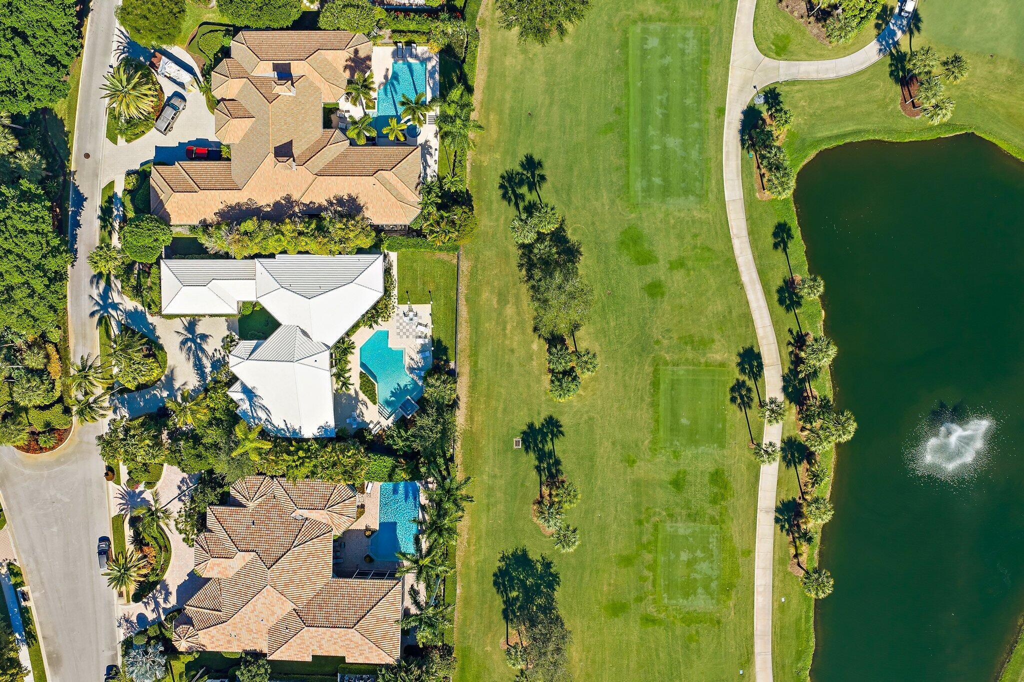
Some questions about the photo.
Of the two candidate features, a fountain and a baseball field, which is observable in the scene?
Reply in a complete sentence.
I can see a fountain in this picture.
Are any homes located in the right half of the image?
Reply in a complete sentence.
No, in the right half of the image there is no home.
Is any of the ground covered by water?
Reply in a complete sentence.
Yes, the picture does contain water.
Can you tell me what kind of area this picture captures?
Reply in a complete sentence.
This looks like a golf course.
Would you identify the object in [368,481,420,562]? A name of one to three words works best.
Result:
swimming pool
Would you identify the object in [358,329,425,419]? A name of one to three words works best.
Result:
swimming pool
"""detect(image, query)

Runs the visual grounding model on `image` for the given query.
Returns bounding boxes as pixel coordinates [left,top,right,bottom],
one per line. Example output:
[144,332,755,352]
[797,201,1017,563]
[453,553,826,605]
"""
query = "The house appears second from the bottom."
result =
[160,254,384,437]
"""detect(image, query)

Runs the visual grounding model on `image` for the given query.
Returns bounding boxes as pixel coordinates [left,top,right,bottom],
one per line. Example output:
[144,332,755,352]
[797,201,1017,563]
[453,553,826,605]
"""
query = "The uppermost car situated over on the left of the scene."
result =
[155,94,188,137]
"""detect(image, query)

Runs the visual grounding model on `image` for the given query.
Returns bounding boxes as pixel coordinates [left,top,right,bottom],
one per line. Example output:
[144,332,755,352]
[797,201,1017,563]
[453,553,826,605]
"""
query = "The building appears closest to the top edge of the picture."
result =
[151,30,422,224]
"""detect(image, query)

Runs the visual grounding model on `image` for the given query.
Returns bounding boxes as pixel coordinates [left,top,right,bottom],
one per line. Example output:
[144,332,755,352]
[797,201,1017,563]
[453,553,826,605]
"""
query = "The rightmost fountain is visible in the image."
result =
[895,402,1017,482]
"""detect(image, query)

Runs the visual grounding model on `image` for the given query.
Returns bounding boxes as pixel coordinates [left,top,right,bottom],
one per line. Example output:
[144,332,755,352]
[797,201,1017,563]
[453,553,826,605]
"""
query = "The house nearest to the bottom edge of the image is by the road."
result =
[170,476,401,664]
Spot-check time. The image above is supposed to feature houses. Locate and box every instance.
[160,254,384,437]
[170,476,401,664]
[151,30,422,224]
